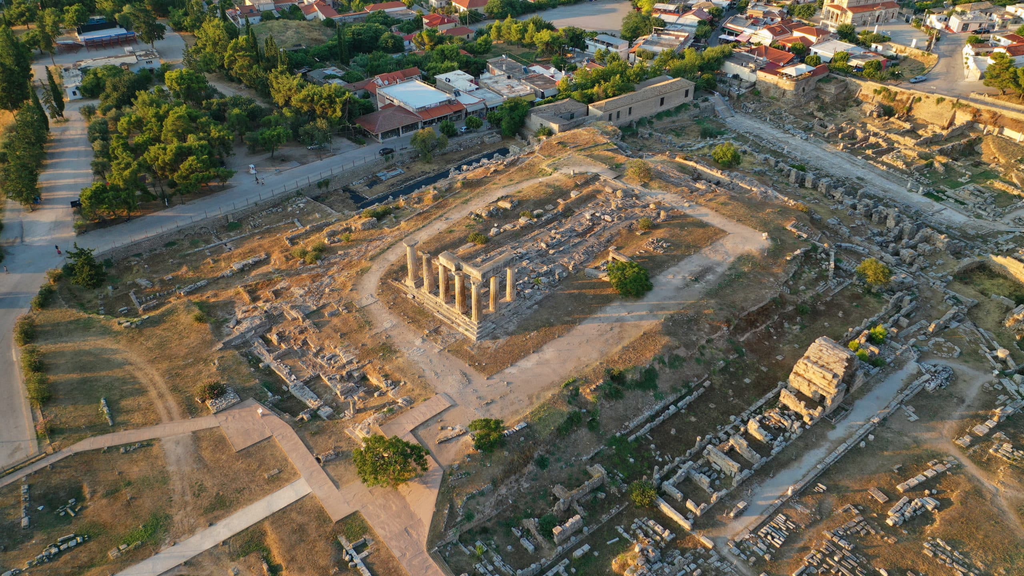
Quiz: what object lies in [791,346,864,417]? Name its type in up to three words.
building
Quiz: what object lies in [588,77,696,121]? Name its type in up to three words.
building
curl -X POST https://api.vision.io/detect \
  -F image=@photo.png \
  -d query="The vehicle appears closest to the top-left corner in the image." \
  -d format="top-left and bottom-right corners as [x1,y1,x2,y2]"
[63,194,84,207]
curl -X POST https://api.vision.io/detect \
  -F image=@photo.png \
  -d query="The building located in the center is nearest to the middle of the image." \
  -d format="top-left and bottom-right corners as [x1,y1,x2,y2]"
[391,241,592,344]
